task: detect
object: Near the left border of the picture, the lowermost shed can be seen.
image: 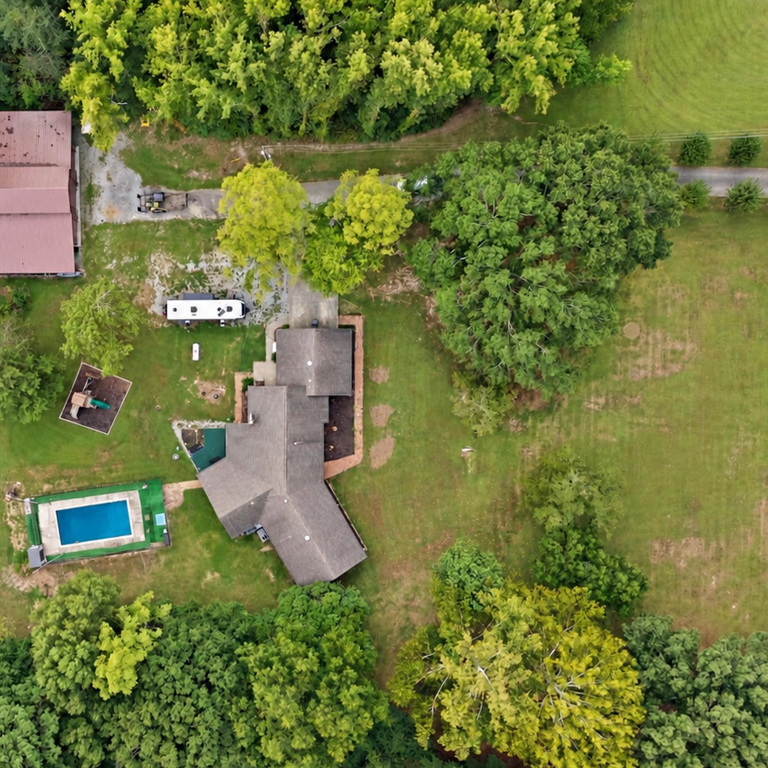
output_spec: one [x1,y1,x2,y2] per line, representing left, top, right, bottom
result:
[27,544,51,568]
